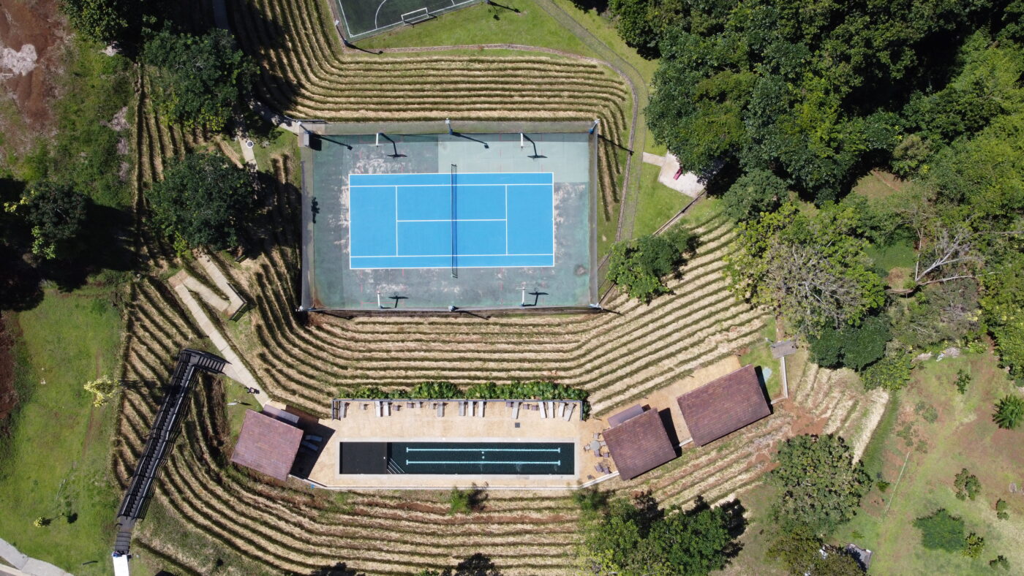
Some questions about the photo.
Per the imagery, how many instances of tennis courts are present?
1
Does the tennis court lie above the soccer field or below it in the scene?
below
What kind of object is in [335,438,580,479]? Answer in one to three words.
swimming pool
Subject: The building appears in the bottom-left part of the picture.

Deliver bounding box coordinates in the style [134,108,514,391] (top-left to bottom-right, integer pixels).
[231,408,308,481]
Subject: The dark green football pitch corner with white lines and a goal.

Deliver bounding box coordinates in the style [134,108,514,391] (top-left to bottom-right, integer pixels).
[335,0,485,41]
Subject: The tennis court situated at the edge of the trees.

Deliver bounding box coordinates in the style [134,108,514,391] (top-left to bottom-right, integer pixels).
[312,132,591,309]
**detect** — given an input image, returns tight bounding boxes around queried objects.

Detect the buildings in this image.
[676,365,771,447]
[231,408,308,481]
[842,539,872,573]
[602,407,677,481]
